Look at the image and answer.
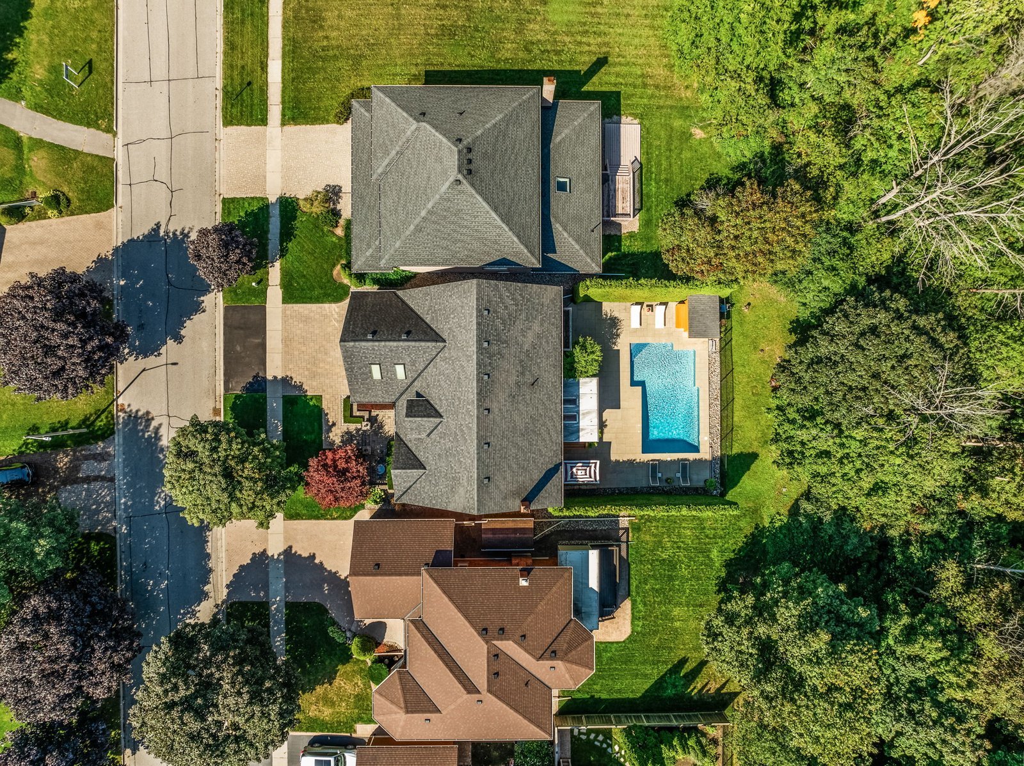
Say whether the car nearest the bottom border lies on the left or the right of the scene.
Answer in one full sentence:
You can find the car nearest the bottom border on the left side of the picture.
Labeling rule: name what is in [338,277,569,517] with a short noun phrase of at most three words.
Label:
house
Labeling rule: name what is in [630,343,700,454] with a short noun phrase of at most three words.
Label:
swimming pool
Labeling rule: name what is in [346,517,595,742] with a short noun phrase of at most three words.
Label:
house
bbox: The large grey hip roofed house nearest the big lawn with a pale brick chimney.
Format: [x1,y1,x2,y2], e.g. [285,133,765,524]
[350,73,603,275]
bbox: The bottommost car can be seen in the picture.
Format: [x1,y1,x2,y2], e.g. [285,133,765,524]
[301,743,355,766]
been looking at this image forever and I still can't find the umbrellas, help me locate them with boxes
[565,460,599,484]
